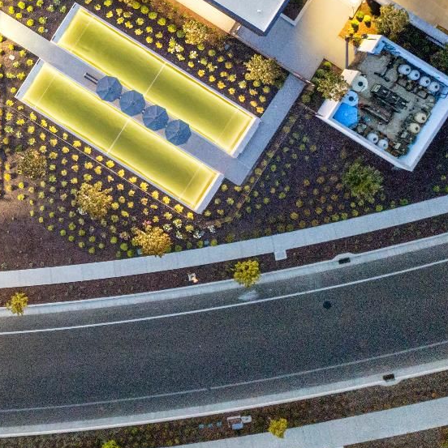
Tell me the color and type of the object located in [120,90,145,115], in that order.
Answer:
blue umbrella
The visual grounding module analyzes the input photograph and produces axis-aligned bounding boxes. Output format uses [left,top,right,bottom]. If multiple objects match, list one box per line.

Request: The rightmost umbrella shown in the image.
[165,120,190,144]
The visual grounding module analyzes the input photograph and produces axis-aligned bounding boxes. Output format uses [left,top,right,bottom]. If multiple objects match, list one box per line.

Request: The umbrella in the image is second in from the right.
[141,105,168,130]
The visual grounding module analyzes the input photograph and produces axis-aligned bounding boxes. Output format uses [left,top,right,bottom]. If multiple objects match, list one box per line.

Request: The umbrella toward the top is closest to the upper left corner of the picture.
[96,76,121,101]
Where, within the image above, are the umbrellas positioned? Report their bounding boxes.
[96,76,121,101]
[120,90,145,115]
[141,105,168,130]
[165,120,190,144]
